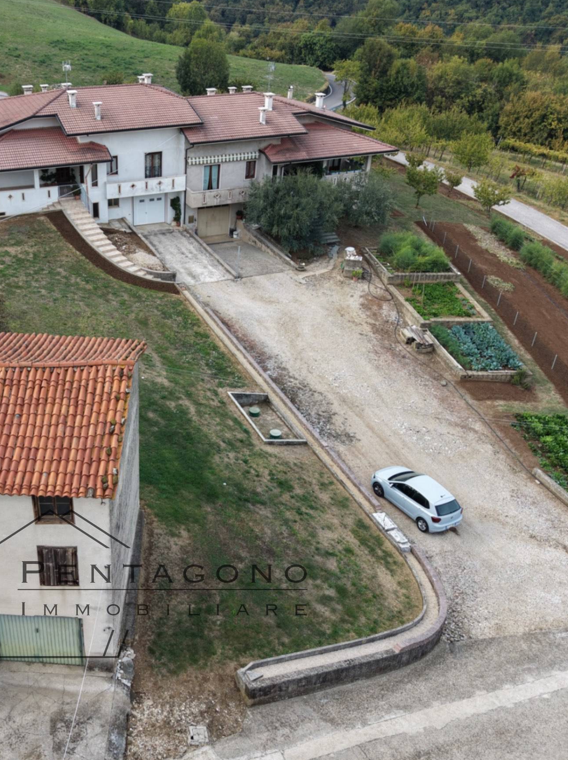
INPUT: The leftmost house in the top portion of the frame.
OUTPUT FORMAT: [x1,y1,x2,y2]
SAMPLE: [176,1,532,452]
[0,44,204,231]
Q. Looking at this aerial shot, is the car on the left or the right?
right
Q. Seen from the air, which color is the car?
white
